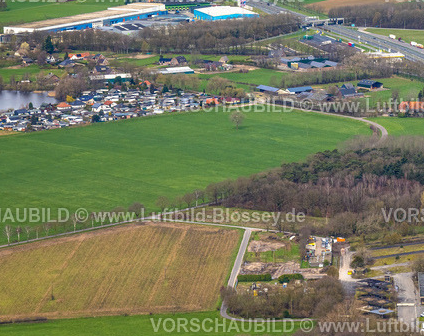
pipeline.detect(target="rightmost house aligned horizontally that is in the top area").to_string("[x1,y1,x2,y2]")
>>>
[397,101,424,114]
